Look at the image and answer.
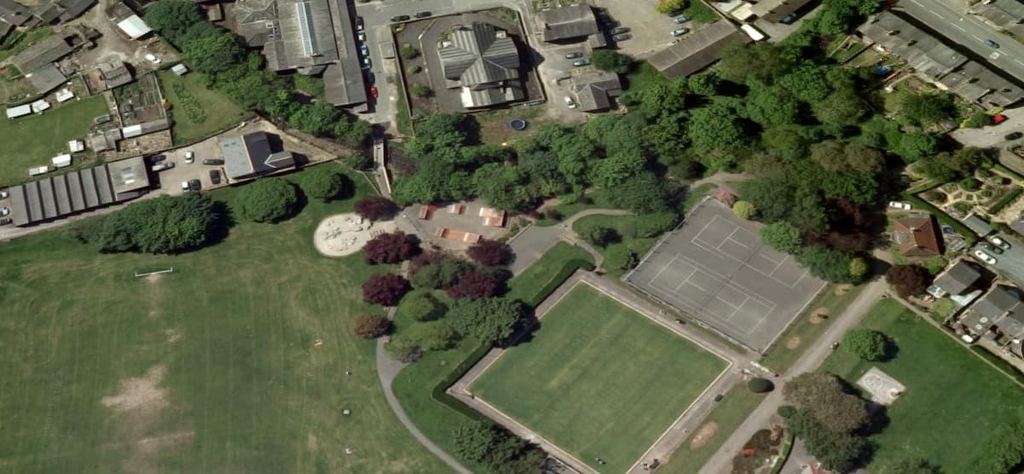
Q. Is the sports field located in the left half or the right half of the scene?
left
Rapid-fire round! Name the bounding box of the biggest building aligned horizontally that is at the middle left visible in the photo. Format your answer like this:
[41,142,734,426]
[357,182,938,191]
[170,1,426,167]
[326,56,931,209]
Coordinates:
[9,164,116,227]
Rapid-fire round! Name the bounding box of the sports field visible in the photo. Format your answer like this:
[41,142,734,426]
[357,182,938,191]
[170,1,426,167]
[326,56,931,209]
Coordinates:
[0,164,468,474]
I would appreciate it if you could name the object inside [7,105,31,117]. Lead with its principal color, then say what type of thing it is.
white vehicle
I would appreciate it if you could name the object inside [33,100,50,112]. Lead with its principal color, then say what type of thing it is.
white vehicle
